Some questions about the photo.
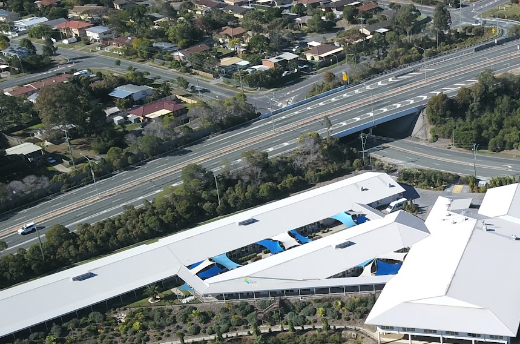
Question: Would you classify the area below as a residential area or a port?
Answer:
residential area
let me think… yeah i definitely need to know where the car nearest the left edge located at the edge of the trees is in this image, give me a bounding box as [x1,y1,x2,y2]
[16,219,36,232]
